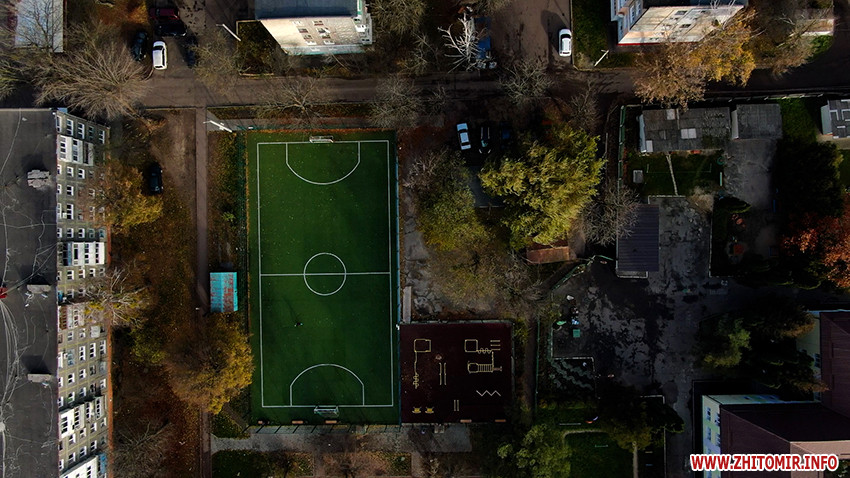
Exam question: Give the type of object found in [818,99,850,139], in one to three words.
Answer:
building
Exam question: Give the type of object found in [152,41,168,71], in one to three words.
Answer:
car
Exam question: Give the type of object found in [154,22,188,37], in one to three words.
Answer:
car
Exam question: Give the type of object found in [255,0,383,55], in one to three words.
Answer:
building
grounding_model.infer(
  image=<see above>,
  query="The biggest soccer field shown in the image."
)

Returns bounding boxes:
[247,129,400,425]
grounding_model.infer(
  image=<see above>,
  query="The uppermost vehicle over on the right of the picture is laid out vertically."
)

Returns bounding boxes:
[558,28,573,57]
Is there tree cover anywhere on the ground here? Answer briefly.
Yes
